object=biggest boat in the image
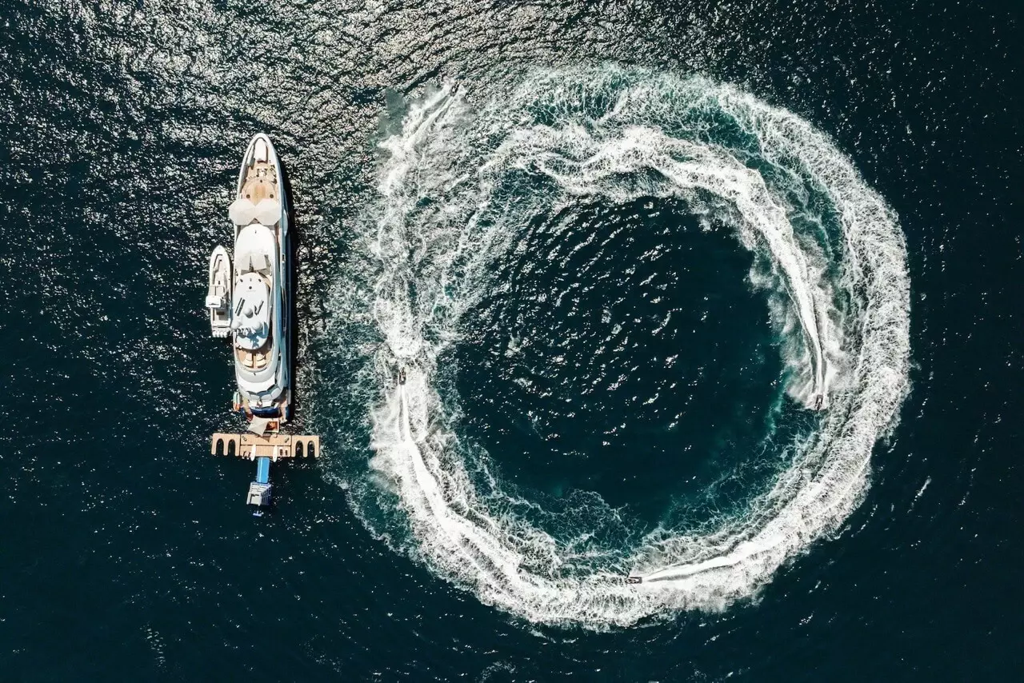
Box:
[234,132,293,432]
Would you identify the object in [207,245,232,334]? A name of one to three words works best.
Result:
boat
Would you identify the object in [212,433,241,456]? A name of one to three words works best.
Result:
pier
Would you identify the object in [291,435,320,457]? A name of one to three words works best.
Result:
pier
